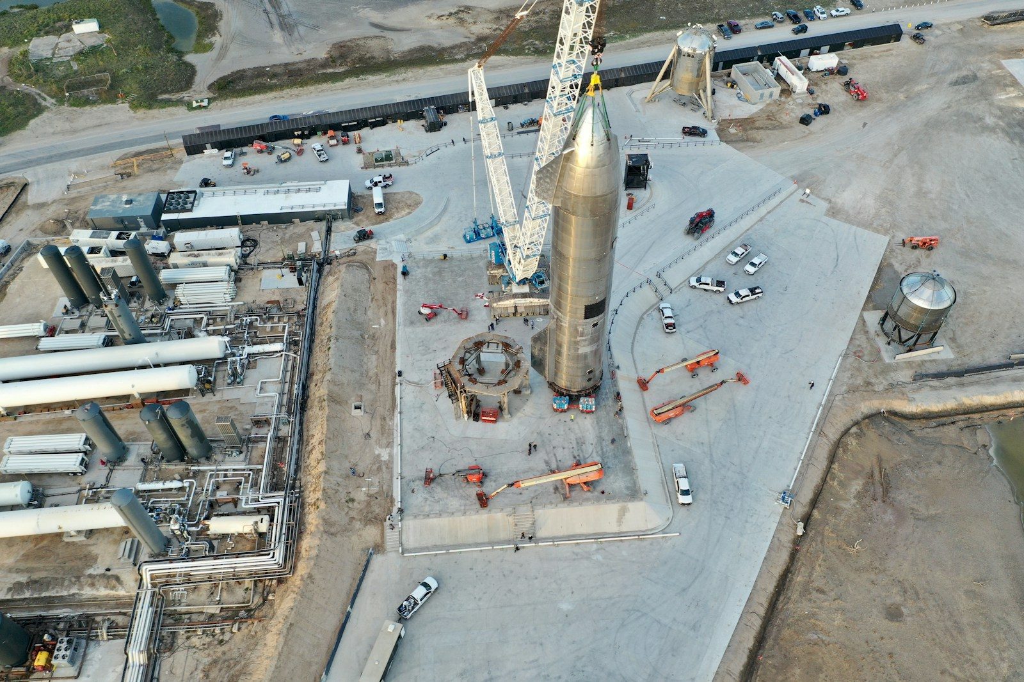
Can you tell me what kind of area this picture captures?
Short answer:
industrial area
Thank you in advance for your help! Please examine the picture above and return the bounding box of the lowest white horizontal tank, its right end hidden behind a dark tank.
[0,502,131,545]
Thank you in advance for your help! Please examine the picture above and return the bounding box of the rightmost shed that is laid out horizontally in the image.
[751,18,905,64]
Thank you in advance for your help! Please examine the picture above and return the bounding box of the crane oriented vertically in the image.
[471,0,604,307]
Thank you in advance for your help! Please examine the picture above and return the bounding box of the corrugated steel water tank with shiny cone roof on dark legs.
[881,274,960,358]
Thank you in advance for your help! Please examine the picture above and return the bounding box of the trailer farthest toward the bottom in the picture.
[357,617,402,682]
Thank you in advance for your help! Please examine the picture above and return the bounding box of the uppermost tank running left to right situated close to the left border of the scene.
[0,338,233,383]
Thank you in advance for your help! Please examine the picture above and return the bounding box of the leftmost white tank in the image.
[0,480,43,511]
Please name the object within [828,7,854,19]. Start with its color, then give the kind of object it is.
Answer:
white vehicle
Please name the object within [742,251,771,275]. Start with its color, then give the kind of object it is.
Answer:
white truck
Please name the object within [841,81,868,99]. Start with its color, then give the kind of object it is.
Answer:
red work vehicle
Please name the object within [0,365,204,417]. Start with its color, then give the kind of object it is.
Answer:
white storage tank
